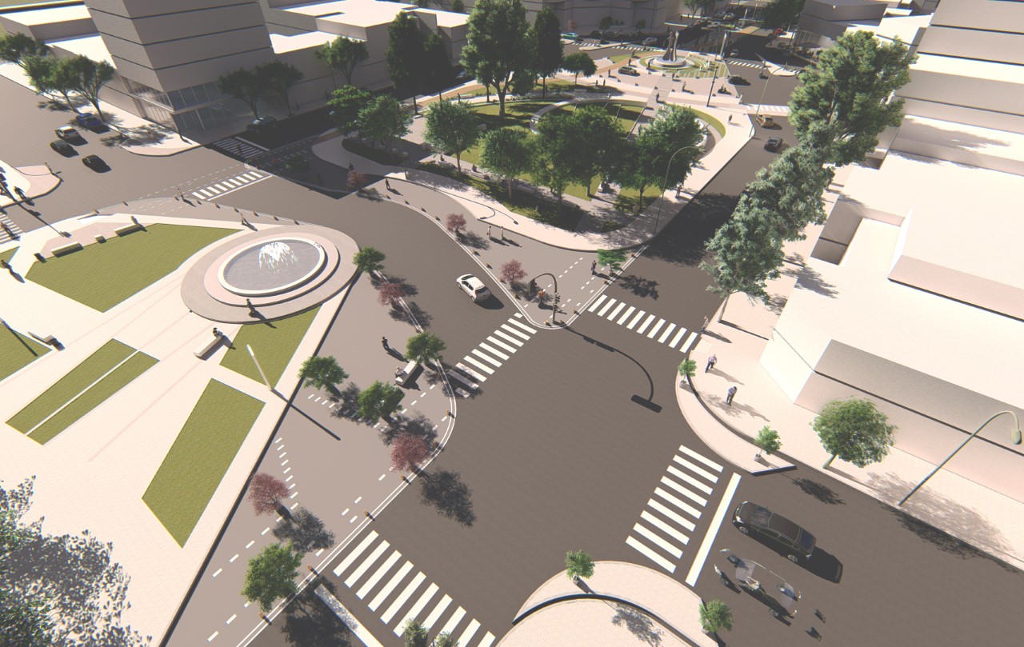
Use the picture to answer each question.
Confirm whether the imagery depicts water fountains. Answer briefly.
Yes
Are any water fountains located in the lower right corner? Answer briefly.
No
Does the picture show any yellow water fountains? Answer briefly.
No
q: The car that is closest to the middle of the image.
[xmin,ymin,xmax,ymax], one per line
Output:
[454,273,492,300]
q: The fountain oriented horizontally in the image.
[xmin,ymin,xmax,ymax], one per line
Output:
[179,224,361,324]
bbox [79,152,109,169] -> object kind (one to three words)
car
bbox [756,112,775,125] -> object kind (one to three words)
vehicle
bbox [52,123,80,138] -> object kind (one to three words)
car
